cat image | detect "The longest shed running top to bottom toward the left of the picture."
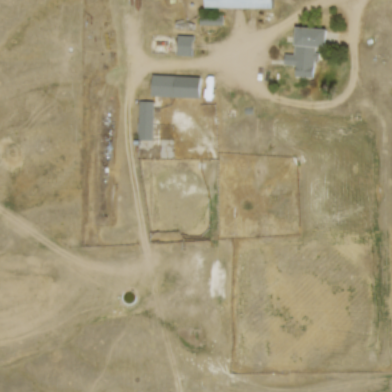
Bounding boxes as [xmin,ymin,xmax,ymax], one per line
[139,100,156,140]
